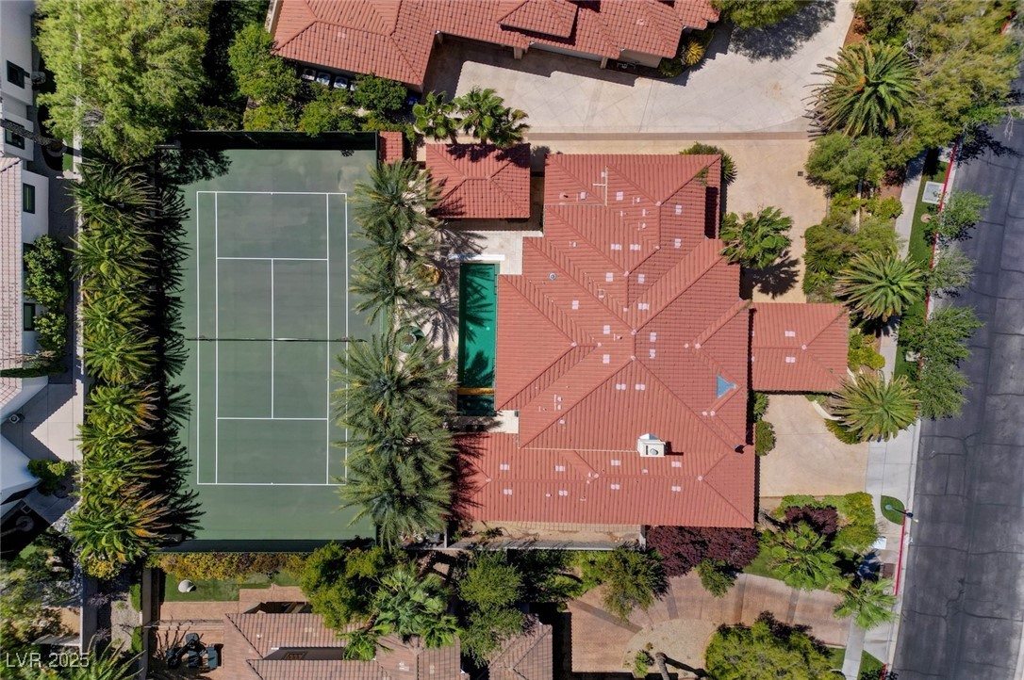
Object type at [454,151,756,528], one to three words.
house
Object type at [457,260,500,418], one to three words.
swimming pool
